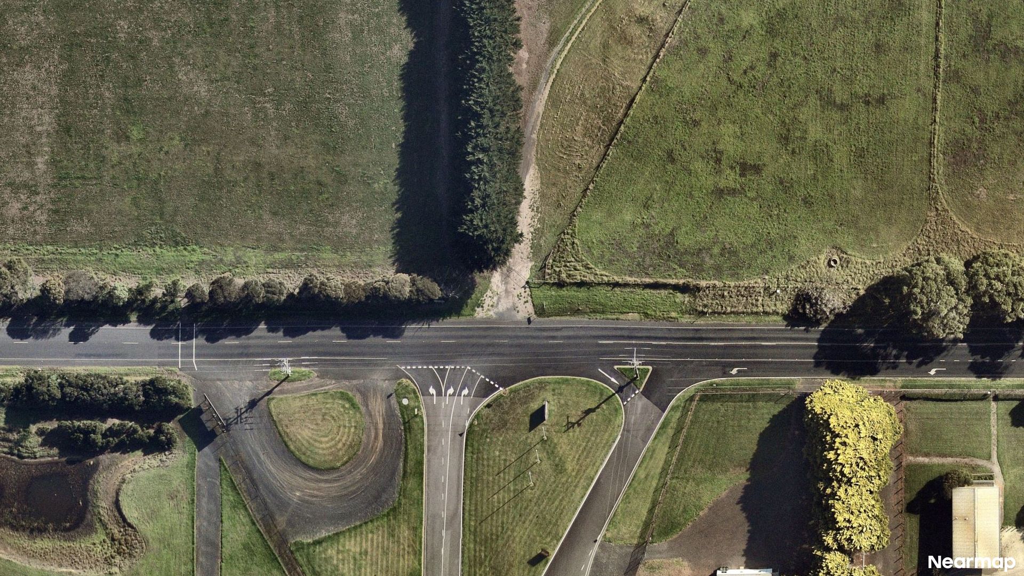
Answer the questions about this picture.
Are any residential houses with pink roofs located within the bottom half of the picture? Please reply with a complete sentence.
No, there is no residential house with a pink roof within the bottom half of the picture.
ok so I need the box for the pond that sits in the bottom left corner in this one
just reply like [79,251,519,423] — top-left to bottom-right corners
[24,471,83,521]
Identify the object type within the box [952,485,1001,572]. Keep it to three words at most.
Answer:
house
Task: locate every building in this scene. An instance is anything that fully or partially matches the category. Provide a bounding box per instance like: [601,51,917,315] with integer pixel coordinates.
[717,570,772,576]
[952,485,1001,572]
